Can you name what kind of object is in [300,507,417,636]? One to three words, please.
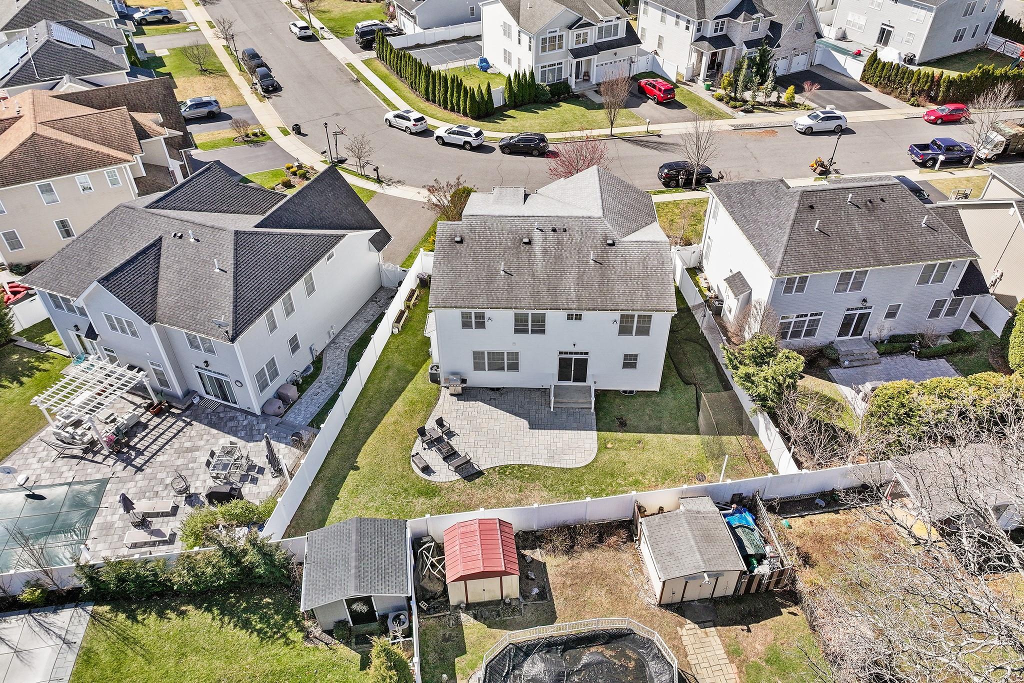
shed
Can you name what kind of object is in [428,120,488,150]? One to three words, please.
car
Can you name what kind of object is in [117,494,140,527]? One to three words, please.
umbrella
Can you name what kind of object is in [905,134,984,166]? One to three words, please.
truck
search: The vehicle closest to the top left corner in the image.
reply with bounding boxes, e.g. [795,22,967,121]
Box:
[147,4,175,22]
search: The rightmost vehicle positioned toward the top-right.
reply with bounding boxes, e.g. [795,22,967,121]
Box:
[971,116,1024,160]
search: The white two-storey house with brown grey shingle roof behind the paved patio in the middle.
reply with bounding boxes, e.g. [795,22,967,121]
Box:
[420,165,678,414]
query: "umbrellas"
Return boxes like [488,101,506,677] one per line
[262,434,283,476]
[117,494,140,527]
